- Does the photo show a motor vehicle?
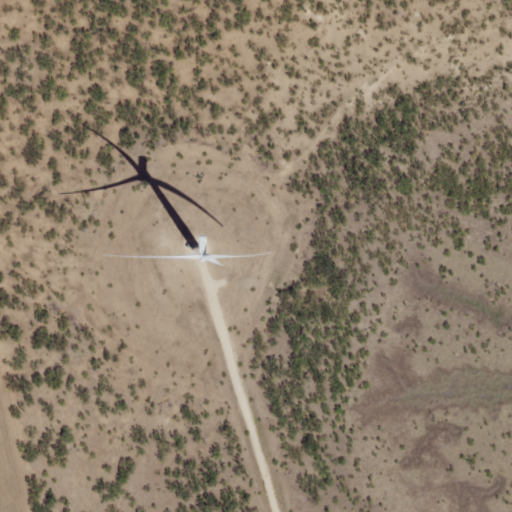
No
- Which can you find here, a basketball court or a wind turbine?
wind turbine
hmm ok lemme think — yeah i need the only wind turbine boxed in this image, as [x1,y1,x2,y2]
[116,236,262,264]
